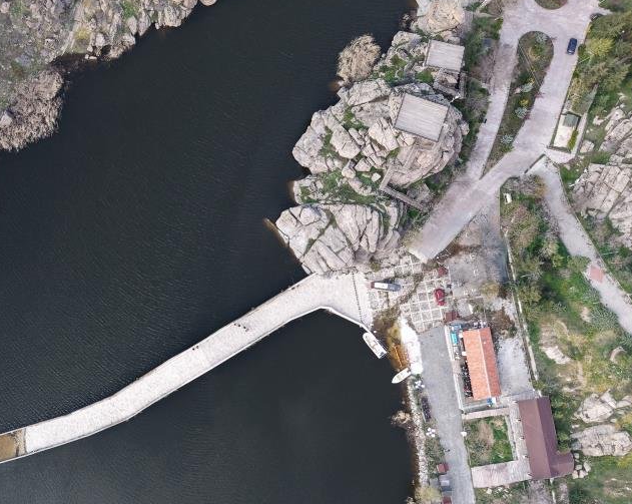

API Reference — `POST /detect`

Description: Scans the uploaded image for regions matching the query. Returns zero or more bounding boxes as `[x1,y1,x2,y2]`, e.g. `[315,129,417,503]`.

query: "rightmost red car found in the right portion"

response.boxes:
[435,287,448,306]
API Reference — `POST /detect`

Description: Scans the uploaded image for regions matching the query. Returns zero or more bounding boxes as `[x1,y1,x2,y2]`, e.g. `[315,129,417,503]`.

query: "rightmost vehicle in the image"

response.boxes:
[589,8,610,23]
